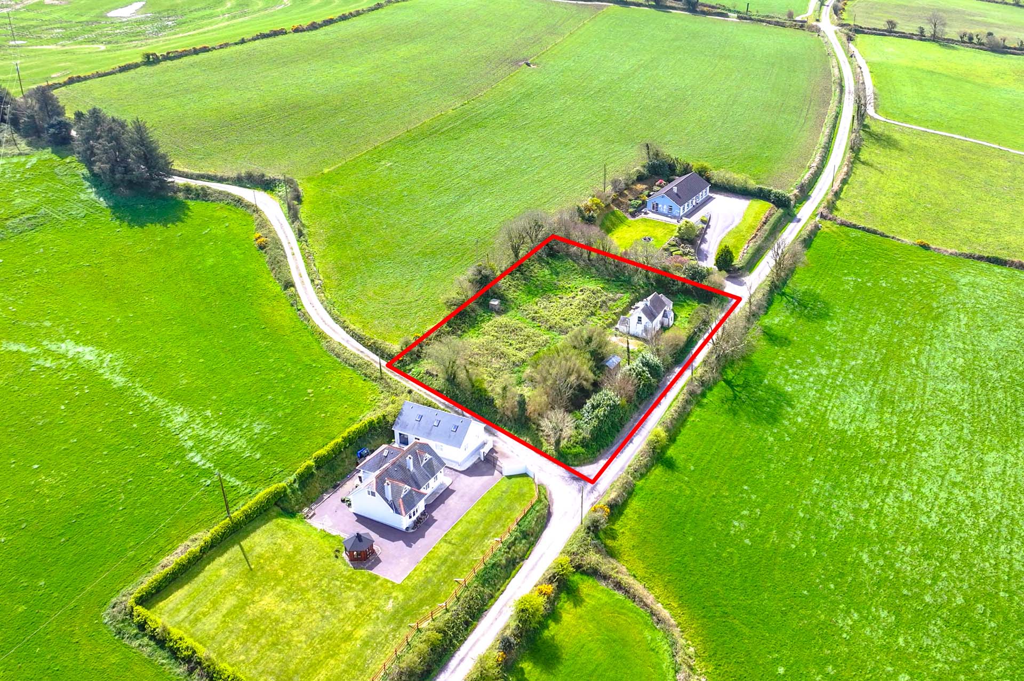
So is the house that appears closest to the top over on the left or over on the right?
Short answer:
right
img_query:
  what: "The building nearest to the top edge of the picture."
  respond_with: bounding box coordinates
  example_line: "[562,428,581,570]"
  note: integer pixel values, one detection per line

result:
[648,173,709,218]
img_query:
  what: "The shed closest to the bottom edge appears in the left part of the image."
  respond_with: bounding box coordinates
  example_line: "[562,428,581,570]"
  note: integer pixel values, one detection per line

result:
[343,531,375,561]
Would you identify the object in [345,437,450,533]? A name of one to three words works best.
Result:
house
